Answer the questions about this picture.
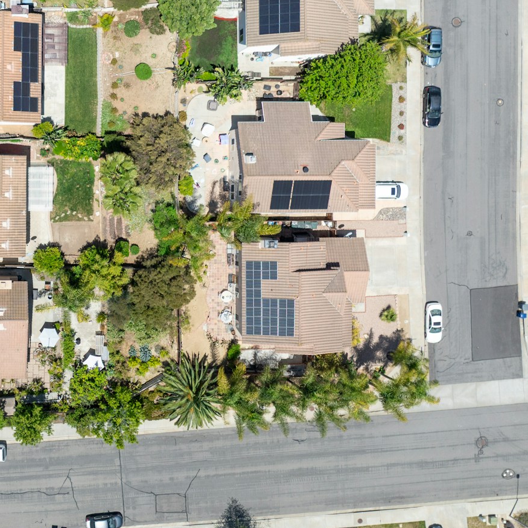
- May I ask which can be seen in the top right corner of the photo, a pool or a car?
car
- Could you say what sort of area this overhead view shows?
residential area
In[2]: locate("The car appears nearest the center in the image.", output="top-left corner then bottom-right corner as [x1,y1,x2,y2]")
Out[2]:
[376,181,413,200]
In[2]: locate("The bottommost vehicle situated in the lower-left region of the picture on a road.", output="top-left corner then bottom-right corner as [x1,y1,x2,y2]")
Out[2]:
[84,511,124,528]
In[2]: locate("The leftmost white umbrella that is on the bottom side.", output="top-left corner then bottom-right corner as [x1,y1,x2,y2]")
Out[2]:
[38,328,60,348]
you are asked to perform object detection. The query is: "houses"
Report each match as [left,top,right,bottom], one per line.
[226,101,376,213]
[235,0,375,57]
[0,272,31,388]
[232,235,376,355]
[0,149,27,258]
[0,5,42,127]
